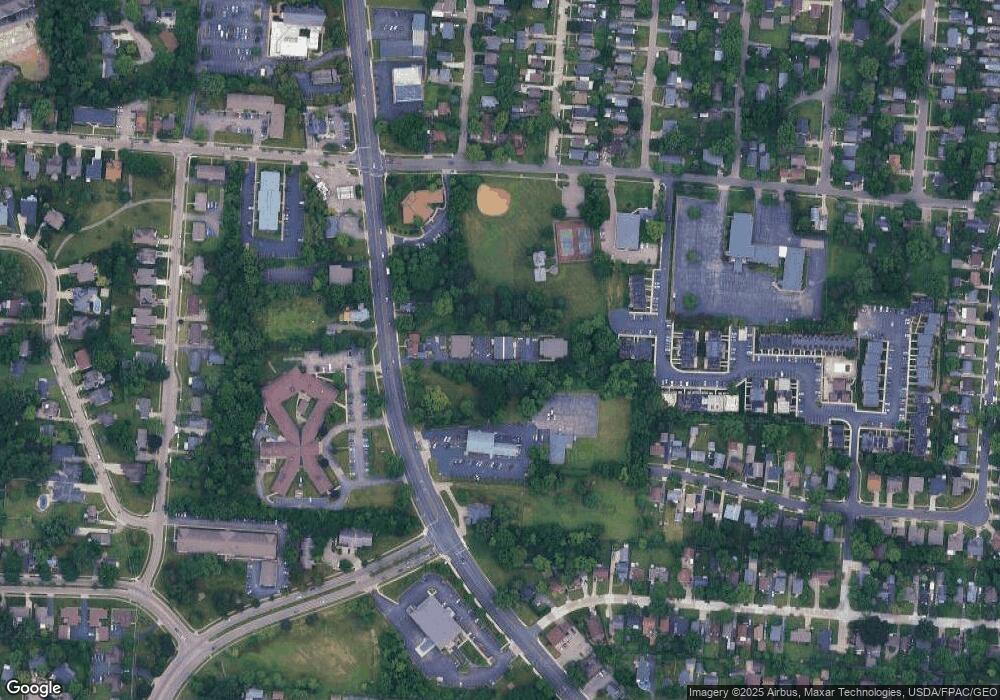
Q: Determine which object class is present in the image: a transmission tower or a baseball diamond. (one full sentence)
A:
I can see a baseball diamond in this picture.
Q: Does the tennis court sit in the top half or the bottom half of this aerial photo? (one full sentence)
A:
Seen from above, the tennis court lies in the top half of the view.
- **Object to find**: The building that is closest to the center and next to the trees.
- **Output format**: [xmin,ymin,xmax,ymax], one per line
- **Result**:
[494,337,514,359]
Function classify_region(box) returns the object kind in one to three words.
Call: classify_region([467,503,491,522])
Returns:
house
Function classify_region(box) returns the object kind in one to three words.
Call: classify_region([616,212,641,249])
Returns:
building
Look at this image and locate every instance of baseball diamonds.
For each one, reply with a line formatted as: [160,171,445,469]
[464,176,561,299]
